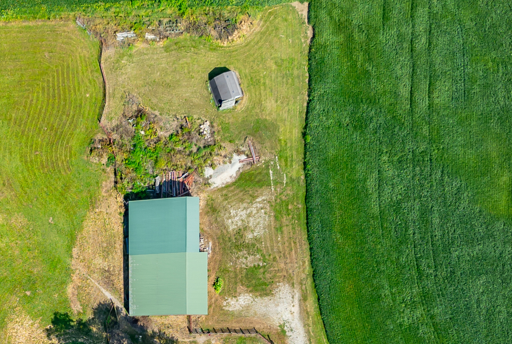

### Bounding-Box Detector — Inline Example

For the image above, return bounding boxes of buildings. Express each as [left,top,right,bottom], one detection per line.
[129,197,207,315]
[208,68,244,117]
